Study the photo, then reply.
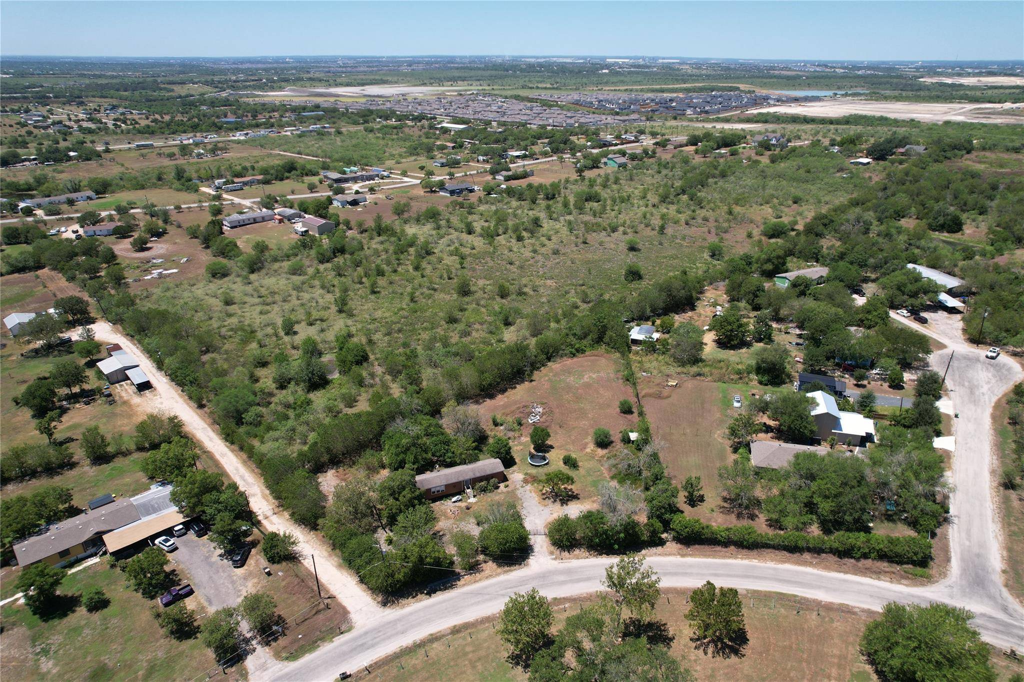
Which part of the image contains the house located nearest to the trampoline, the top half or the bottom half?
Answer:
bottom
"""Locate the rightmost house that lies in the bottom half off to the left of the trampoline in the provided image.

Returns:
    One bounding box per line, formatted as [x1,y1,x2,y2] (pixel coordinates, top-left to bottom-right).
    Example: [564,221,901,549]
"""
[414,459,504,501]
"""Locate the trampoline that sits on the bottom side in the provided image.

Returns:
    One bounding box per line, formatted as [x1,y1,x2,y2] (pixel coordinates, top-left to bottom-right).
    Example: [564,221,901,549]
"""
[528,451,549,468]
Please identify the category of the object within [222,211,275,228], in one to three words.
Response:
house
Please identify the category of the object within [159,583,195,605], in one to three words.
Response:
truck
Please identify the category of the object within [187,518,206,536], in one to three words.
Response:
car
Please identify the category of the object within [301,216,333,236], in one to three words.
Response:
barn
